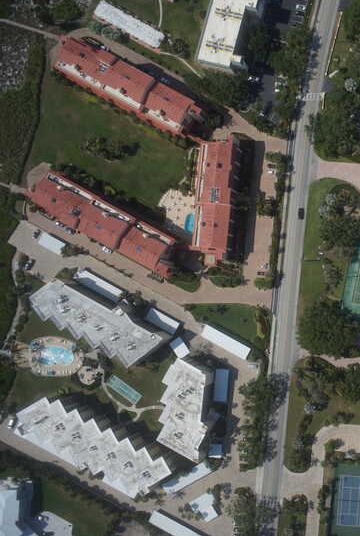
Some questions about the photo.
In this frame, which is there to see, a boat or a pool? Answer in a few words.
pool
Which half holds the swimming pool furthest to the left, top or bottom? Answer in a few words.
bottom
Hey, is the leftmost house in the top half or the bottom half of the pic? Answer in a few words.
bottom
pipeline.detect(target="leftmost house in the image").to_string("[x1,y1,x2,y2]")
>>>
[0,478,36,536]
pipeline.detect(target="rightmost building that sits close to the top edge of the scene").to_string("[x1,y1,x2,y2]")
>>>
[198,0,267,77]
